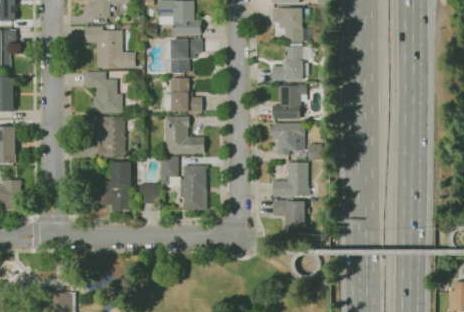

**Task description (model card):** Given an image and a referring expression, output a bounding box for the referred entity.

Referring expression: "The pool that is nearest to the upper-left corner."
[149,45,163,71]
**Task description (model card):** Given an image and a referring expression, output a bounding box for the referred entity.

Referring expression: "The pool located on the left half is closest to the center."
[144,161,159,182]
